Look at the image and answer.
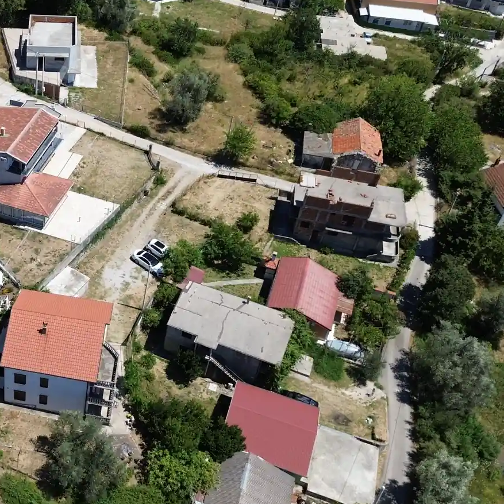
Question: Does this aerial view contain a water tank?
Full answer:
Yes, the picture does show a water tank.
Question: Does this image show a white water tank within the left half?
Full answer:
Yes, within the left half there is a white water tank.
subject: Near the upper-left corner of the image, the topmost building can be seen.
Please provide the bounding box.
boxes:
[23,13,82,72]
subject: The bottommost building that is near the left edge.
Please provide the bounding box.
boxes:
[0,291,120,421]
